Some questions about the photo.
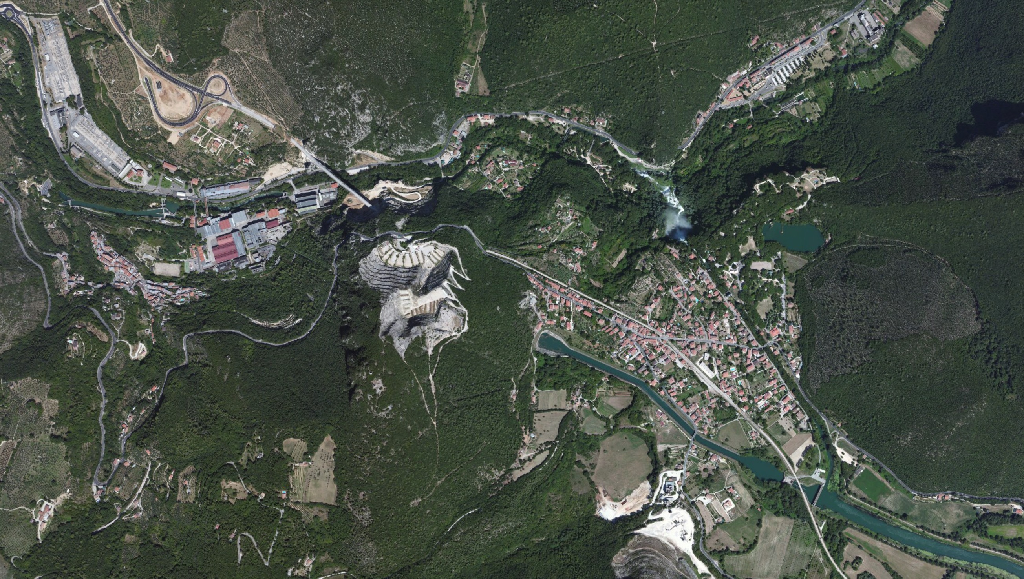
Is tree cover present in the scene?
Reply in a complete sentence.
Yes, tree cover shows up in the scene.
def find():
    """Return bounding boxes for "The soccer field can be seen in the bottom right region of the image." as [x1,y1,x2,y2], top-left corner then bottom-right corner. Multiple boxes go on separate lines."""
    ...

[854,468,891,503]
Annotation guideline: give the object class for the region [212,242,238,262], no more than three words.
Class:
building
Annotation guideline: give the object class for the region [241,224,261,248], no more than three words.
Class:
building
